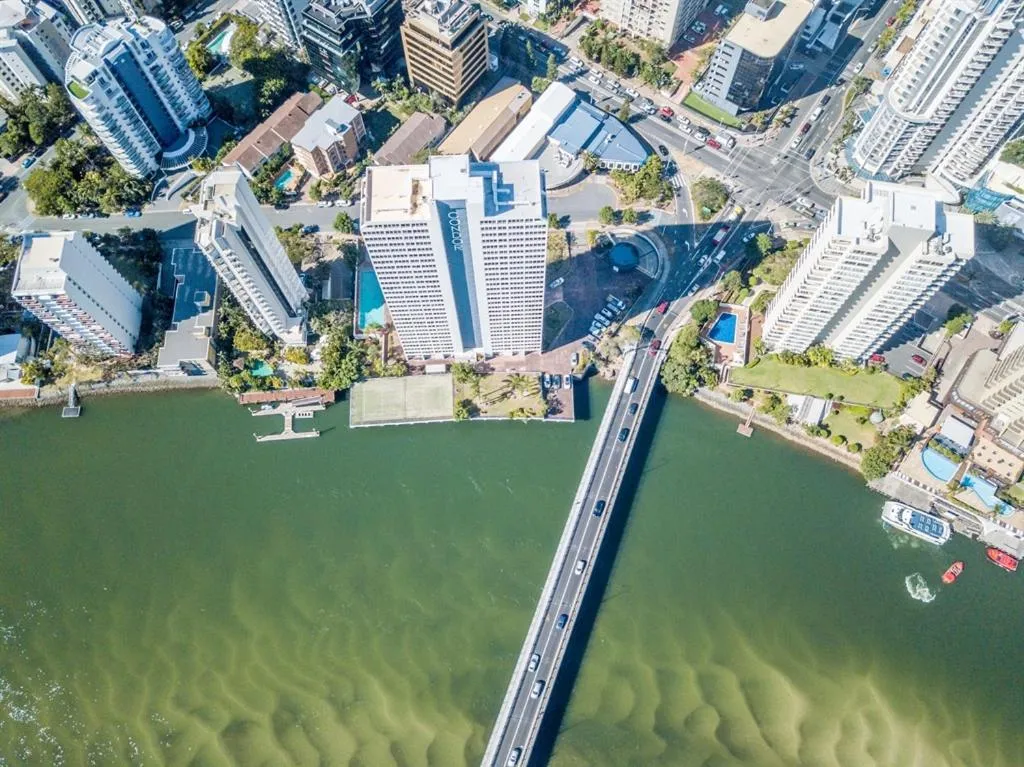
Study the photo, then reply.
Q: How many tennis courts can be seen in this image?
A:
1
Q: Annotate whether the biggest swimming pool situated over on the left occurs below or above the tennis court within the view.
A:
above it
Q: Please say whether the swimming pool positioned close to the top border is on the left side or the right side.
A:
left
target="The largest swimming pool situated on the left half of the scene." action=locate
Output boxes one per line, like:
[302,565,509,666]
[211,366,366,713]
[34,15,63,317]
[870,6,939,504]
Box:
[355,260,392,331]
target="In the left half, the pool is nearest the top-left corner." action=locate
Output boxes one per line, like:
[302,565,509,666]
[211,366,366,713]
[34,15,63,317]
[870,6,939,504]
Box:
[203,23,235,56]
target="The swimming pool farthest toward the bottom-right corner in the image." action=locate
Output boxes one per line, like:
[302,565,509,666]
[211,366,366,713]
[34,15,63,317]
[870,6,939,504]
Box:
[959,473,1016,519]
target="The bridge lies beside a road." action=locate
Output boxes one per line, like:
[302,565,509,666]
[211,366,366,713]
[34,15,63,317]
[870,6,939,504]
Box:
[480,291,701,767]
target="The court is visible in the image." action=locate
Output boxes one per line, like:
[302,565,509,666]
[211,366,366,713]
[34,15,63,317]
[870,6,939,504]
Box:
[348,372,453,425]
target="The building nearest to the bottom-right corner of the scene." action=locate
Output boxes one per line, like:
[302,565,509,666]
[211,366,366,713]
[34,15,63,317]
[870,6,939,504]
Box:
[969,438,1023,483]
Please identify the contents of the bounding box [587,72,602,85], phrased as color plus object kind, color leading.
white vehicle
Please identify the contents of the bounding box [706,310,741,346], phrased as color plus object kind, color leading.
blue swimming pool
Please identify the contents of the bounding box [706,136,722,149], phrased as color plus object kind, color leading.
red vehicle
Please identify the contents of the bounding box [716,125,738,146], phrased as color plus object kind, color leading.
white truck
